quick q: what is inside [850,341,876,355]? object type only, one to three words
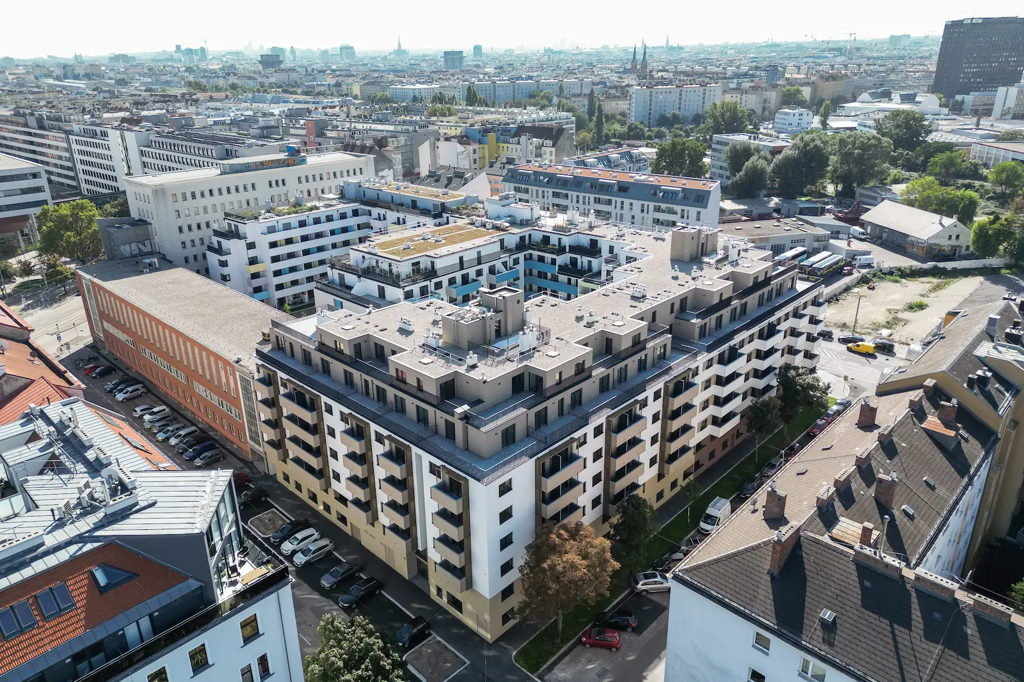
vehicle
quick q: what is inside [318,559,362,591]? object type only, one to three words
car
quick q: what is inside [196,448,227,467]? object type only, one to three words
car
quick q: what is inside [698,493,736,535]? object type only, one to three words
vehicle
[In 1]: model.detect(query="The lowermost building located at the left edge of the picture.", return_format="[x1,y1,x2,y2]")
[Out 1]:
[0,395,309,682]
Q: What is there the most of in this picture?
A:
buildings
